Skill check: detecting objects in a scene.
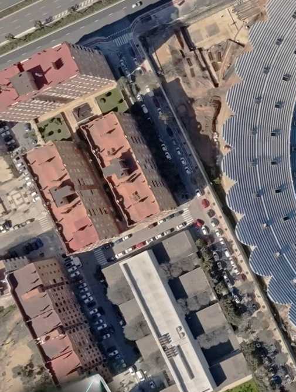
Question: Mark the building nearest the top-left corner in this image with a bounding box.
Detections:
[0,42,111,130]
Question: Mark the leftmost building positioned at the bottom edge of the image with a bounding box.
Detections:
[6,257,111,392]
